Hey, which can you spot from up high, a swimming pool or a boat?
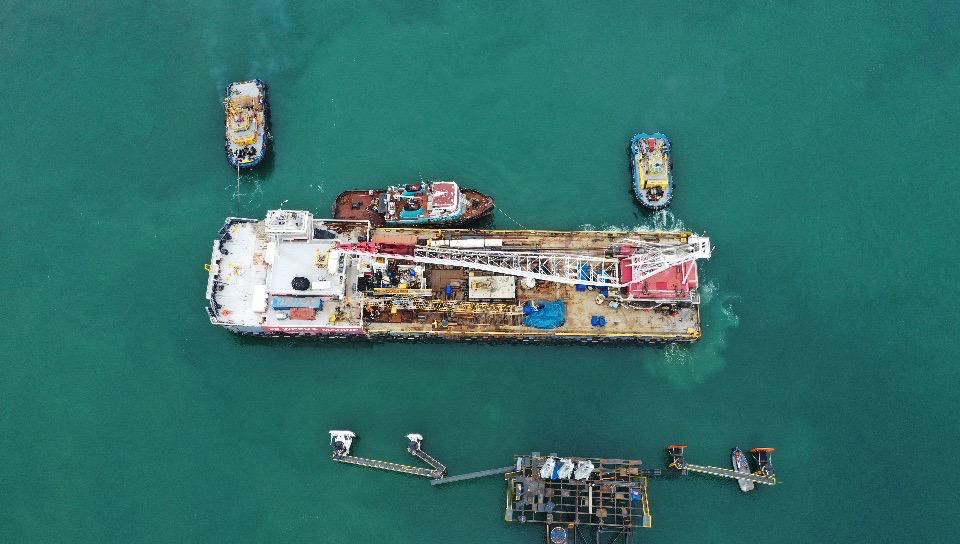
boat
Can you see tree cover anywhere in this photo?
No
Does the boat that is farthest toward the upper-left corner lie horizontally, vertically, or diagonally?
vertically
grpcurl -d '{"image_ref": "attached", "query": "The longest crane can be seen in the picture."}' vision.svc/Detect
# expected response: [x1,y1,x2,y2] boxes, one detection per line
[335,234,713,305]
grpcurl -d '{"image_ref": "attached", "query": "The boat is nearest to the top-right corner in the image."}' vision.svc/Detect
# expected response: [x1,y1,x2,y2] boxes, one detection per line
[629,132,675,212]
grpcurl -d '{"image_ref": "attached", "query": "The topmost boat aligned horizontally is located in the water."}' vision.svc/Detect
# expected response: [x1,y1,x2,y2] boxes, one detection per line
[332,181,495,230]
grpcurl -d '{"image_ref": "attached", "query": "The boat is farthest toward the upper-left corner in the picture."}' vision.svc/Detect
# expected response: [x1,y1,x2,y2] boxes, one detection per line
[225,79,271,170]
